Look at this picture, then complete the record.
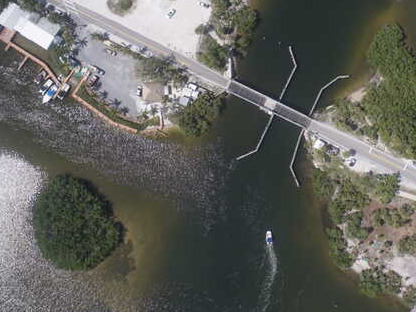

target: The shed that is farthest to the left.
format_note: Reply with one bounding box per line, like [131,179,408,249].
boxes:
[0,2,29,32]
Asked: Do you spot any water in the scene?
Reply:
Yes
